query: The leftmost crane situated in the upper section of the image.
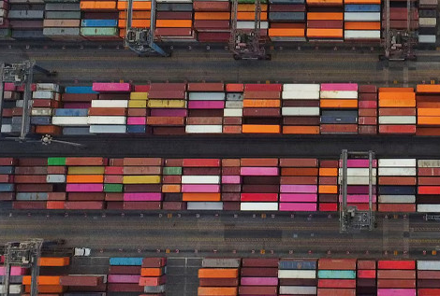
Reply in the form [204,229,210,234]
[0,61,63,143]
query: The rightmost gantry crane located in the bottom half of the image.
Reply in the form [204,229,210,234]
[340,148,380,232]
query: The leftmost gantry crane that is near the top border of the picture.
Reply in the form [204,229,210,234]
[123,0,176,60]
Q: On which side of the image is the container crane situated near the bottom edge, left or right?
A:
left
